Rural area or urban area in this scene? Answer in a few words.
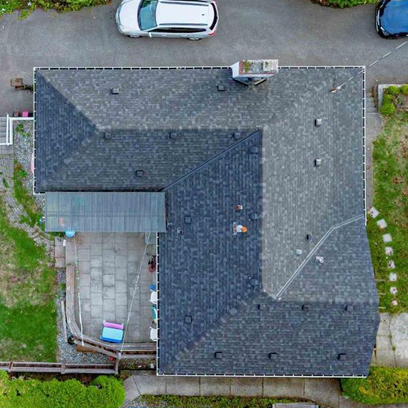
urban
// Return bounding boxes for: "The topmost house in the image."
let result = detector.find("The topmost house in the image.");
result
[31,65,382,378]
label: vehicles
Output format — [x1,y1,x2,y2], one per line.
[371,0,408,41]
[114,0,221,42]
